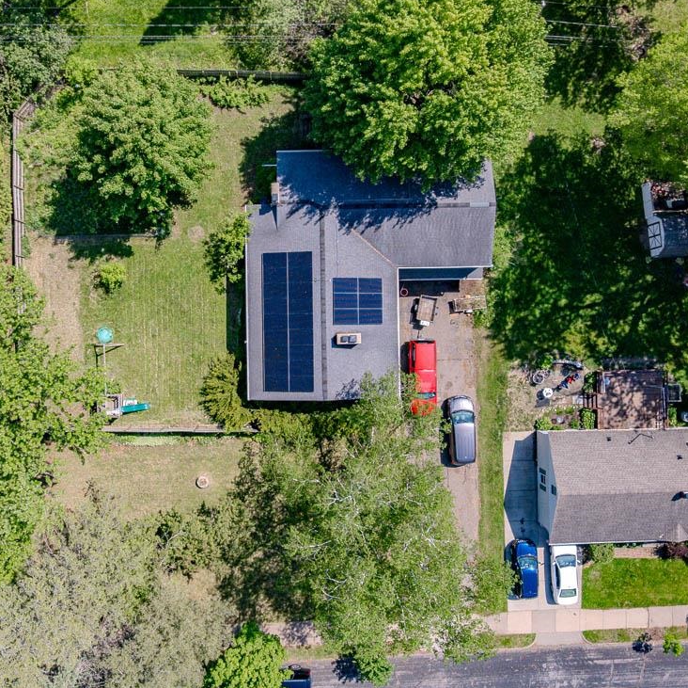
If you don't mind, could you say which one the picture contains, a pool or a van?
van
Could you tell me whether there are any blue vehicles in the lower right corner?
Yes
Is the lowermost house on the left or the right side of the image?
right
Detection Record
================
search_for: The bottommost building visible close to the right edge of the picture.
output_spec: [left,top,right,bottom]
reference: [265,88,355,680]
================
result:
[537,425,688,546]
